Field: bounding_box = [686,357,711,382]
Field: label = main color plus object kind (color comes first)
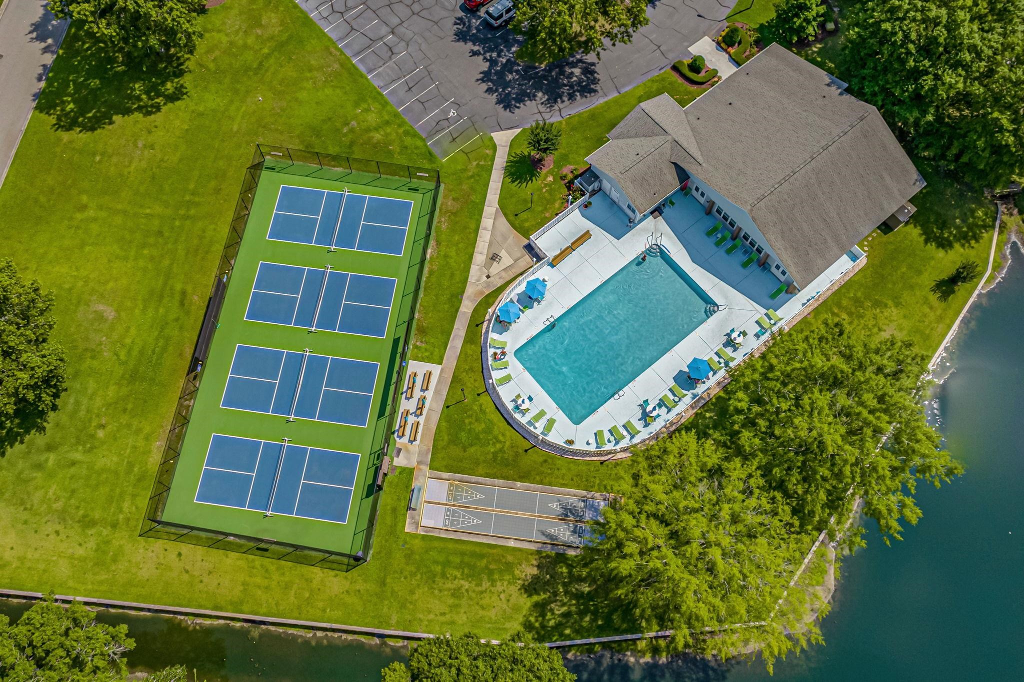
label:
blue umbrella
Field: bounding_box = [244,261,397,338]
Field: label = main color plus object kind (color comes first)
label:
blue sports court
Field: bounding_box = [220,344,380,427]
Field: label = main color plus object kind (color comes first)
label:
blue sports court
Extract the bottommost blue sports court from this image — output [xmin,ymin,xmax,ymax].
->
[194,434,361,523]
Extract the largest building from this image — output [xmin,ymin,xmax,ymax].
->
[585,42,927,296]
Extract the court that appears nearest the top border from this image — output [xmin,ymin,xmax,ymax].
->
[266,184,414,256]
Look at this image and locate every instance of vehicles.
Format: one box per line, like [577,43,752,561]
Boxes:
[486,0,526,28]
[465,0,494,12]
